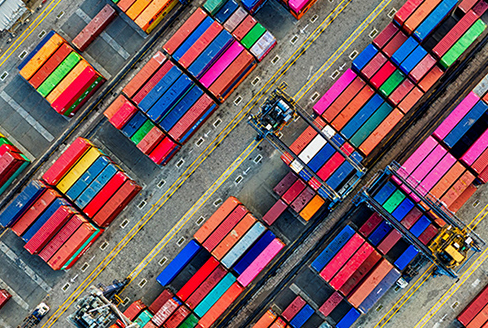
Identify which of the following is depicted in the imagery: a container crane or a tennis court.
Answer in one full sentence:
Looking from above, you can make out a container crane.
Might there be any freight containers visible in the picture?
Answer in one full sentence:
Yes, I can see a freight container in this picture.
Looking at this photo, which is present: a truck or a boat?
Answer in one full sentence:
This aerial view contains a truck.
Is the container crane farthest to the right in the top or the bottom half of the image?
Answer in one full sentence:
You can find the container crane farthest to the right in the bottom half.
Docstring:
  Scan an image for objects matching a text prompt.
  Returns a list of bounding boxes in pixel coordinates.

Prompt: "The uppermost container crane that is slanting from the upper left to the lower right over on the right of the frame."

[245,84,371,214]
